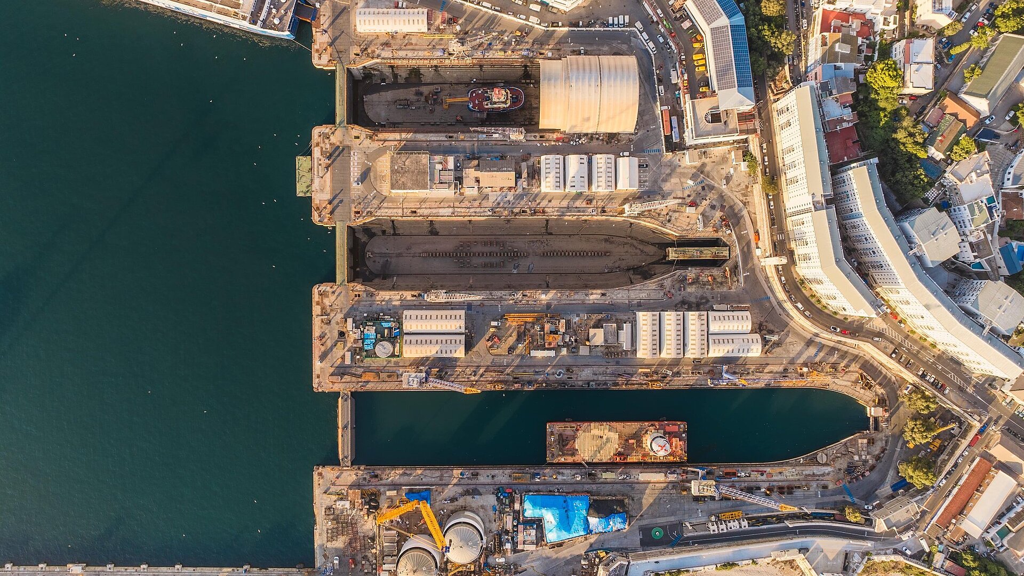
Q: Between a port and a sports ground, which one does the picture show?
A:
port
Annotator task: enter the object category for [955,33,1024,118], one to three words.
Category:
building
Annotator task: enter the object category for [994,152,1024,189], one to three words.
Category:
house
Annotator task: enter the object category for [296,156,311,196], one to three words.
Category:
pier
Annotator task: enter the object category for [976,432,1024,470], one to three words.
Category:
house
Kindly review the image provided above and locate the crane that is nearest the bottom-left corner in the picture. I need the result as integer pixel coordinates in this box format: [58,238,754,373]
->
[369,496,450,556]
